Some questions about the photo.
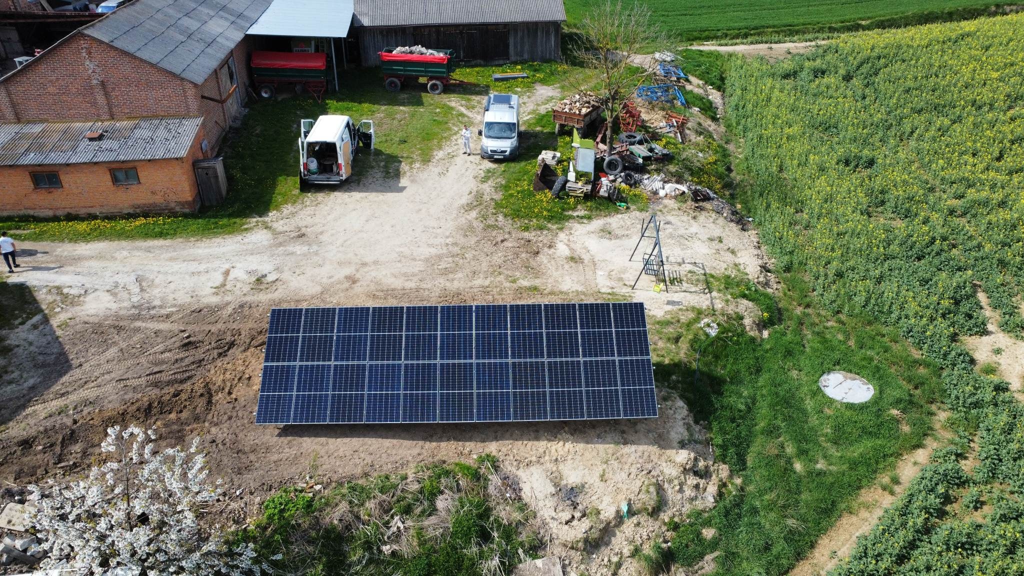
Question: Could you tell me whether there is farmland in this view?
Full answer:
Yes, some farmland is visible.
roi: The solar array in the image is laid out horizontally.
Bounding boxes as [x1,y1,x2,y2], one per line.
[253,303,660,428]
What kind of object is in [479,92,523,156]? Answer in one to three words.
van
